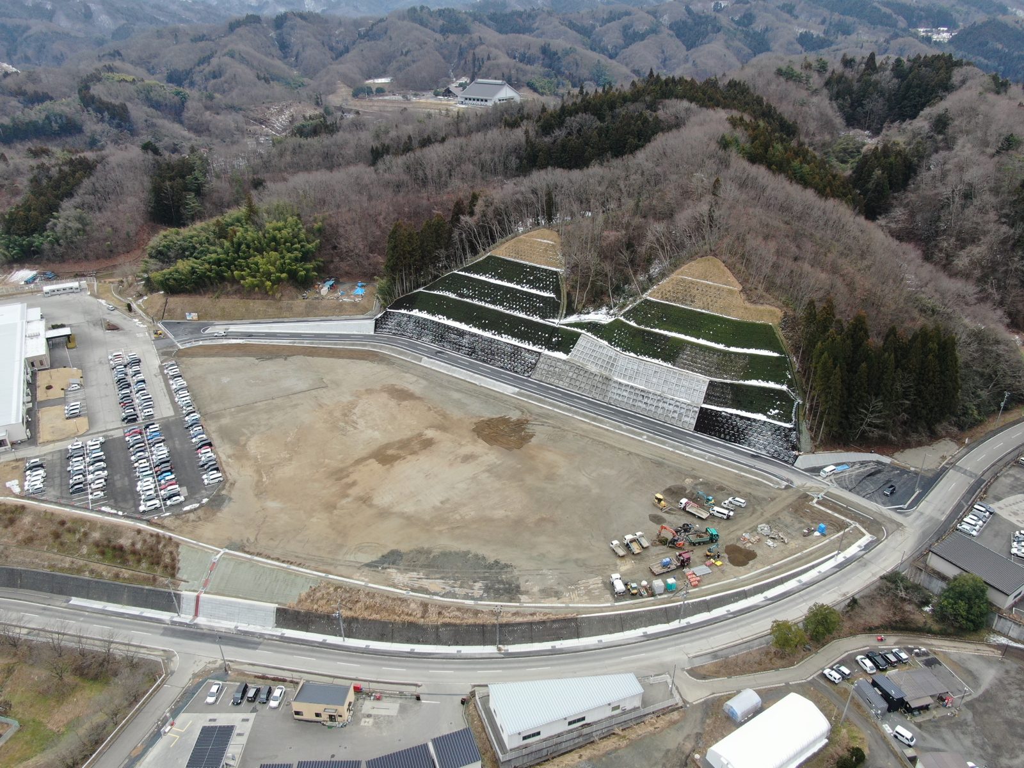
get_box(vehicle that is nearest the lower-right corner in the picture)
[890,721,918,746]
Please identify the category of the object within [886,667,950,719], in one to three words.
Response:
building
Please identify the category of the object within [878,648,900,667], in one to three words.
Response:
car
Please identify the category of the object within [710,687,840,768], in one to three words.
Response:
tent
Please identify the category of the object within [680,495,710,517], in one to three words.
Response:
truck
